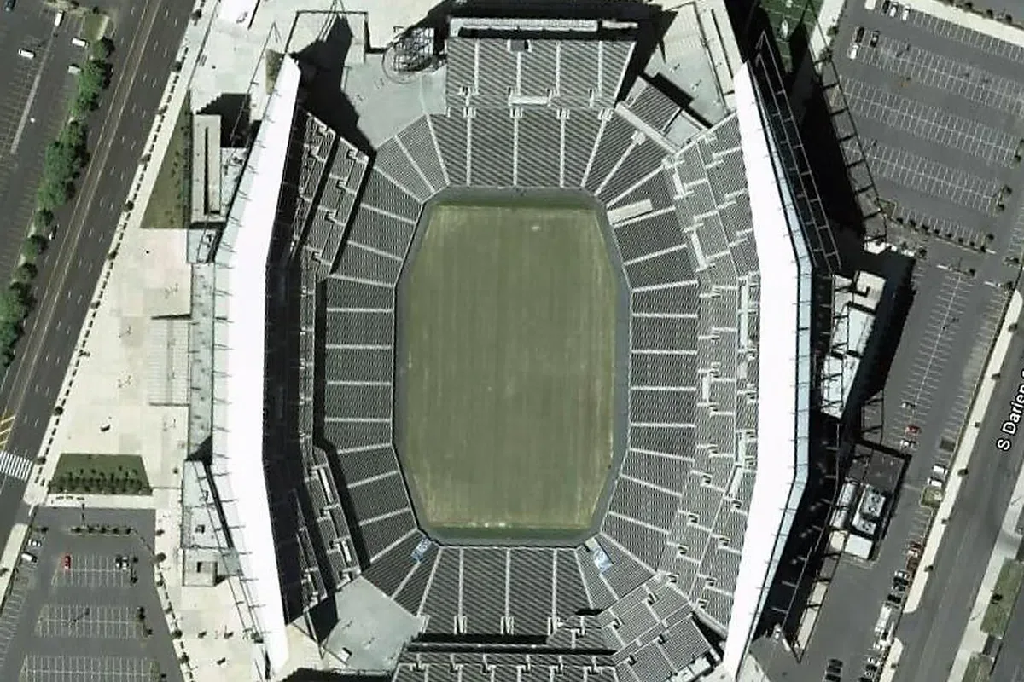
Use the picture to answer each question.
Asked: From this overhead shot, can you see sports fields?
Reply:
Yes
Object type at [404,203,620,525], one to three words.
sports field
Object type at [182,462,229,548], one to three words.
building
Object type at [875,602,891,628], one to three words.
vehicle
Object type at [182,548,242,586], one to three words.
building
